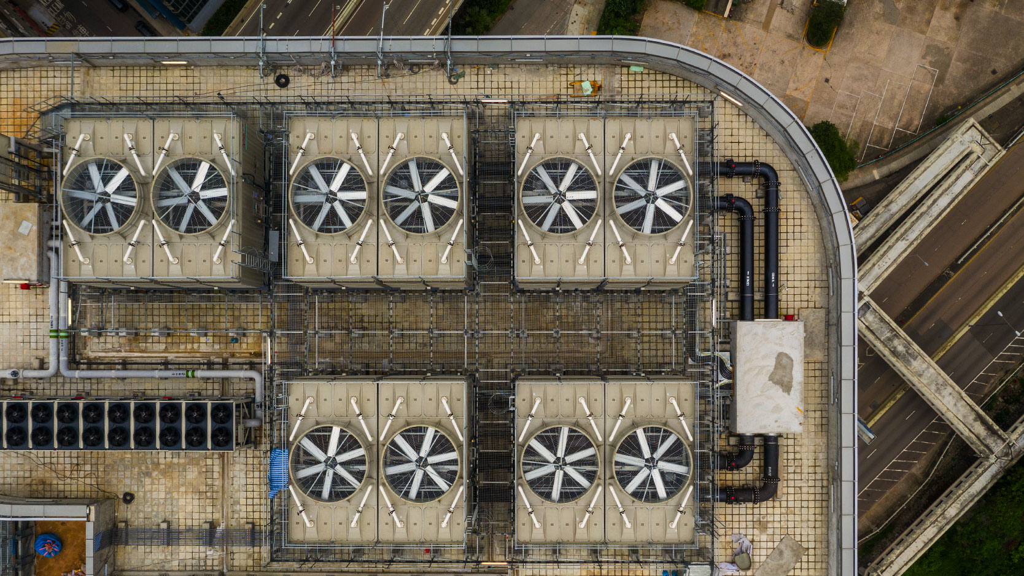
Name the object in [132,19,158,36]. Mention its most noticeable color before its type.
black car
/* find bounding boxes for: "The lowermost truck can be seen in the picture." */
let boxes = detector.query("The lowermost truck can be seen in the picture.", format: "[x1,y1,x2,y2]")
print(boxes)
[857,411,881,445]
